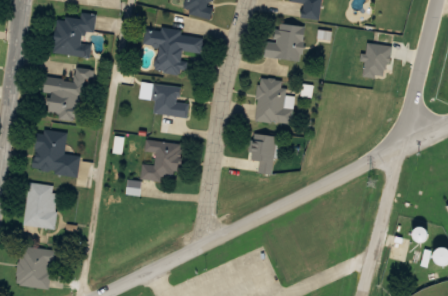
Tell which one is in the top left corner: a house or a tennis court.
house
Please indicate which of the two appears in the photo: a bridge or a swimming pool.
swimming pool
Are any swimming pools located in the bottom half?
No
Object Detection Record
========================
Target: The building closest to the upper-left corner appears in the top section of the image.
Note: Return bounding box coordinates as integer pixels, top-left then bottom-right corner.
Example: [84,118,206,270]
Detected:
[52,15,96,58]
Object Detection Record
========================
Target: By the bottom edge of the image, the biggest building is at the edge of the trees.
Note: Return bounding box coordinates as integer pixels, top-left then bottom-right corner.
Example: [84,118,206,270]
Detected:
[16,246,52,290]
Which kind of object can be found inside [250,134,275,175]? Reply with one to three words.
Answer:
house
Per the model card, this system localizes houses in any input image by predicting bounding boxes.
[292,0,322,20]
[140,140,182,183]
[264,24,306,62]
[16,246,52,290]
[250,134,275,175]
[52,15,96,58]
[44,68,96,123]
[256,78,292,124]
[362,42,393,80]
[142,25,202,74]
[25,184,57,230]
[181,0,211,21]
[34,128,81,177]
